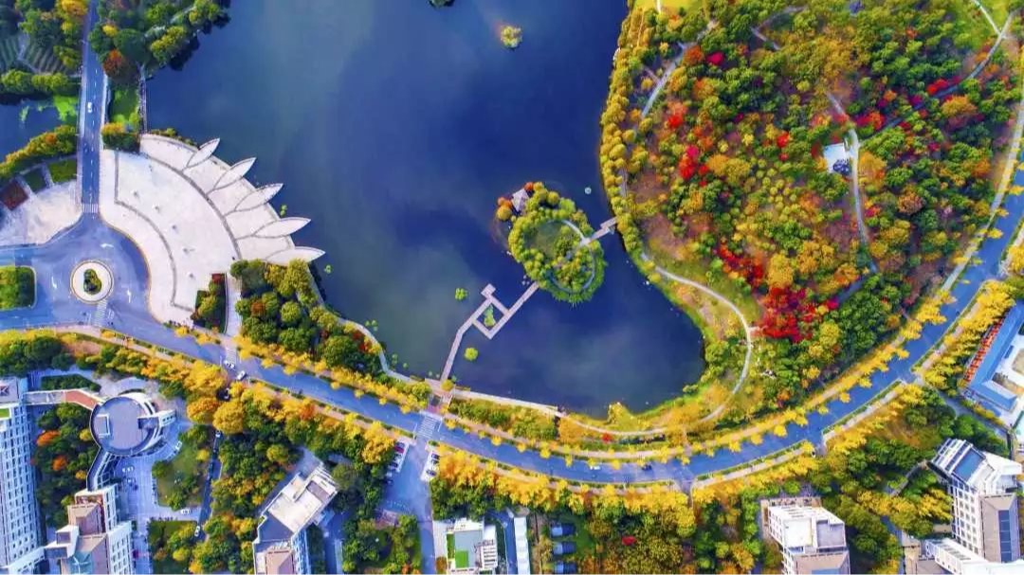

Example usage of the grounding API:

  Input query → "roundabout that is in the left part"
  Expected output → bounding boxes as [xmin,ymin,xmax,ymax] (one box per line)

[71,261,113,302]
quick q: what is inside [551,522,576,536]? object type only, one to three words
shed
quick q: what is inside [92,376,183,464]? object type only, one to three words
building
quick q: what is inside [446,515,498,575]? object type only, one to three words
building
